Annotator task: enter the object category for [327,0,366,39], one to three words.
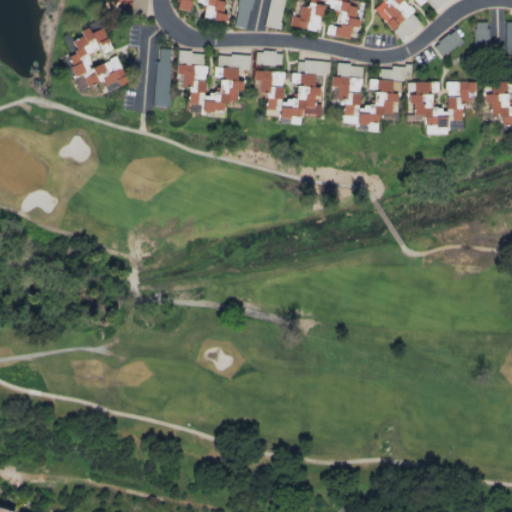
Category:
house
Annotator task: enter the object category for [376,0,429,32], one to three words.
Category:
house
